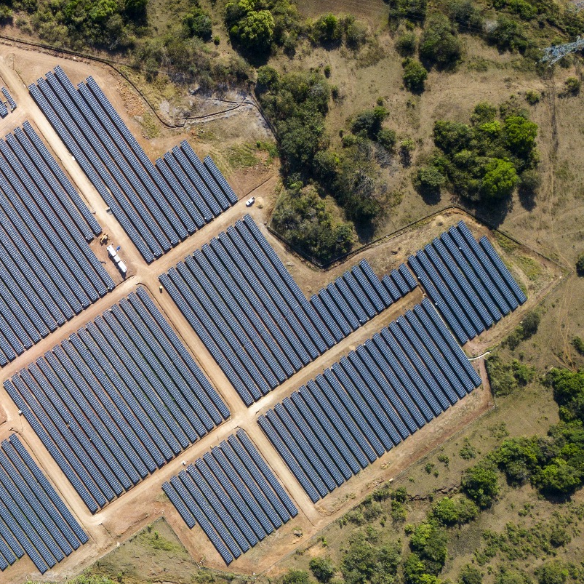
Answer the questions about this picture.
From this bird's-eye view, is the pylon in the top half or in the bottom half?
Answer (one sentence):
You can find the pylon in the top half.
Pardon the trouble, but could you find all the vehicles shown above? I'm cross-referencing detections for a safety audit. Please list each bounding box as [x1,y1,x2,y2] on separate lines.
[99,233,109,243]
[244,198,256,207]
